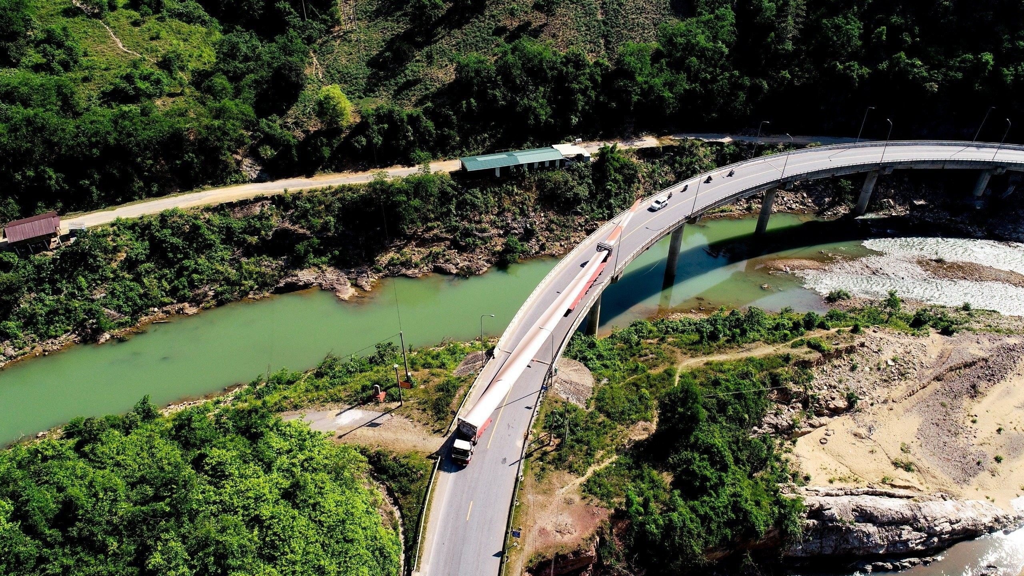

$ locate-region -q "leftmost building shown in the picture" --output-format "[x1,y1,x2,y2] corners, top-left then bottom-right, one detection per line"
[1,219,69,262]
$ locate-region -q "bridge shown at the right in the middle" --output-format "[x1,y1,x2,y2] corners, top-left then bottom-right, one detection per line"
[491,141,1024,384]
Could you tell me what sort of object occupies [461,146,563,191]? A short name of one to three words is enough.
house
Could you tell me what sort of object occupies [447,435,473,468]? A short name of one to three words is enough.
truck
